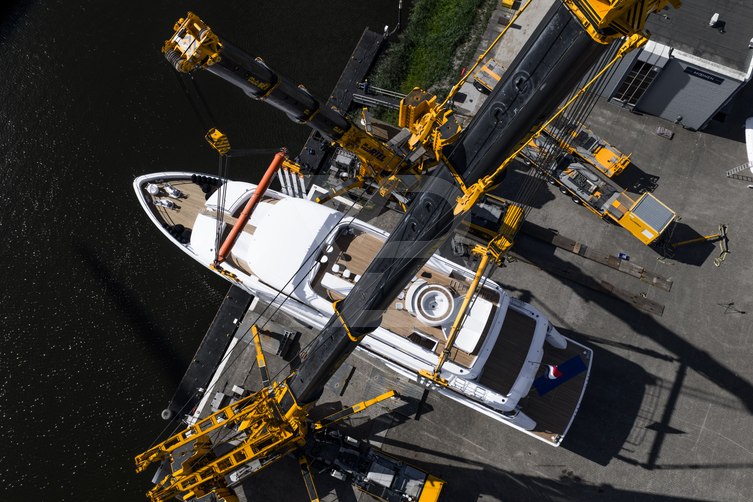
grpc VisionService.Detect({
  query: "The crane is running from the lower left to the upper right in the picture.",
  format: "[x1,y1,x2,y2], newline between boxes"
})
[125,0,683,502]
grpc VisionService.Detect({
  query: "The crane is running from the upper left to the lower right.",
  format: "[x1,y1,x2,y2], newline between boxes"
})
[159,1,507,254]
